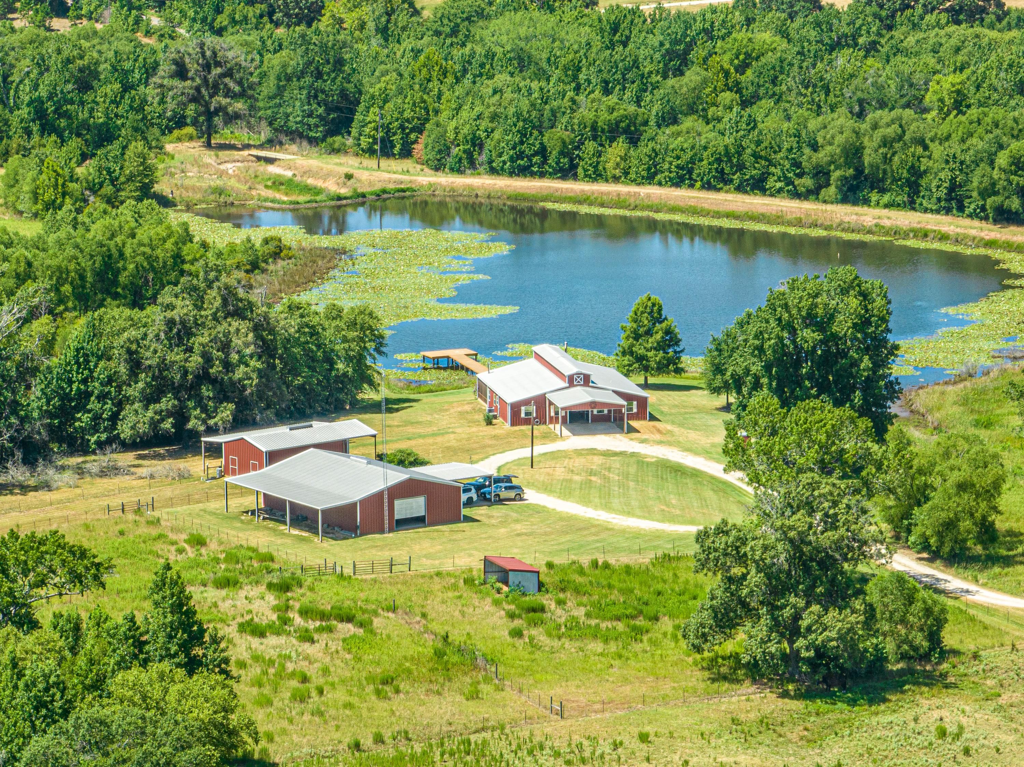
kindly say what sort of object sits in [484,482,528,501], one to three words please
car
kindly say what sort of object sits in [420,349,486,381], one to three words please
pier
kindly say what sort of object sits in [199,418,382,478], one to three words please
shed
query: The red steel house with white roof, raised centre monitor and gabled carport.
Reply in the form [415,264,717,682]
[475,337,651,436]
